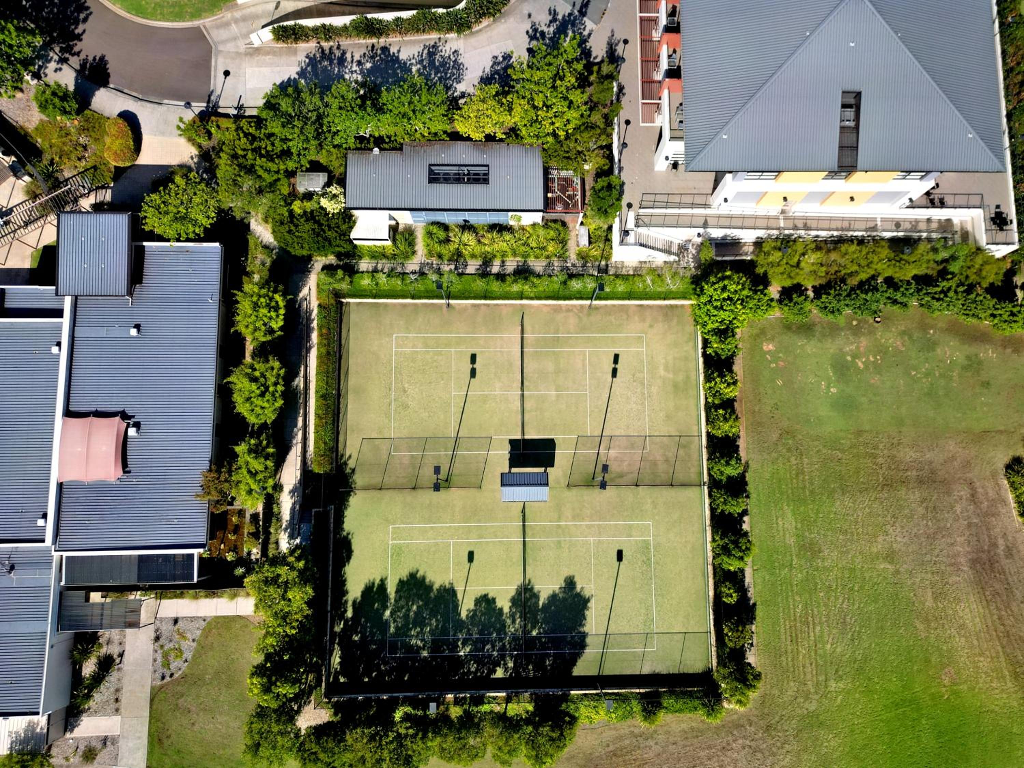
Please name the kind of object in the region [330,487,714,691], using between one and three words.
tennis court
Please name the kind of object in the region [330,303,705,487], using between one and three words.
tennis court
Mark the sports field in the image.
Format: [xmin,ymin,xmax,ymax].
[327,302,1024,768]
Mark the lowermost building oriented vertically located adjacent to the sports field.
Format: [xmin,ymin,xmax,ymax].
[0,210,231,768]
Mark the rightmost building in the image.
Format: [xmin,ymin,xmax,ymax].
[649,0,1006,216]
